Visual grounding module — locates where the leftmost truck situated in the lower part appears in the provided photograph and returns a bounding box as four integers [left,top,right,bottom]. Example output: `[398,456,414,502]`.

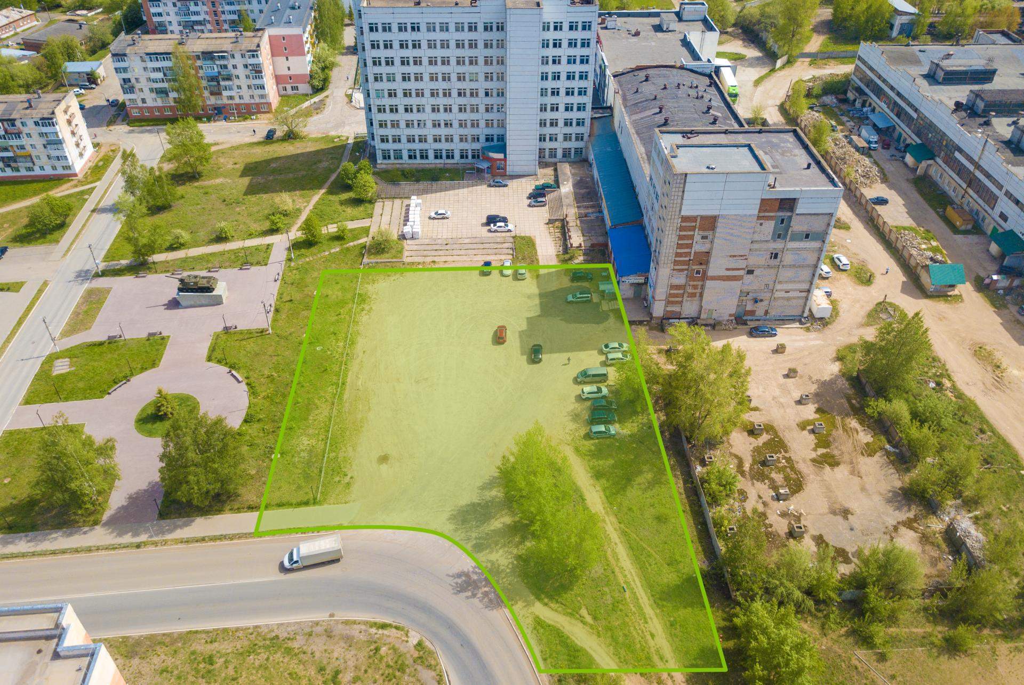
[284,530,345,567]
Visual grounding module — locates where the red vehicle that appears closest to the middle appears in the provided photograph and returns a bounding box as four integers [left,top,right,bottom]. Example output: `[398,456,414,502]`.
[495,327,507,344]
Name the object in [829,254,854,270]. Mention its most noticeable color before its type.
white car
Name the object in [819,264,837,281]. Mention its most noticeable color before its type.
white car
